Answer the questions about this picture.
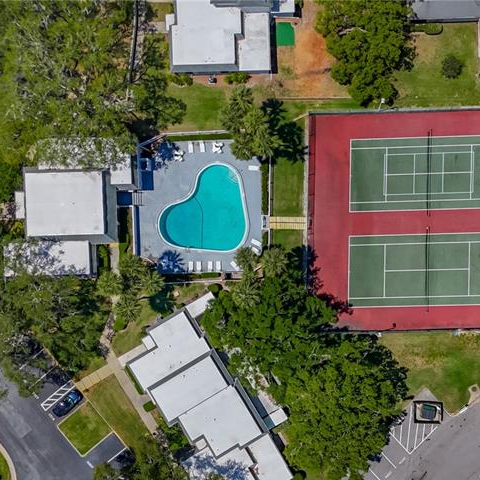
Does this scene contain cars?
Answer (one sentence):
Yes, looking at the shot, I can spot a car.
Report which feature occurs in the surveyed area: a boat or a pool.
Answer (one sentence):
I can see a pool in this picture.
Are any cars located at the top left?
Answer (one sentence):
No, no car can be made out at the top left.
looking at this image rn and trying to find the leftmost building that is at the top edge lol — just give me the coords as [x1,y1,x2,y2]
[165,0,295,77]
